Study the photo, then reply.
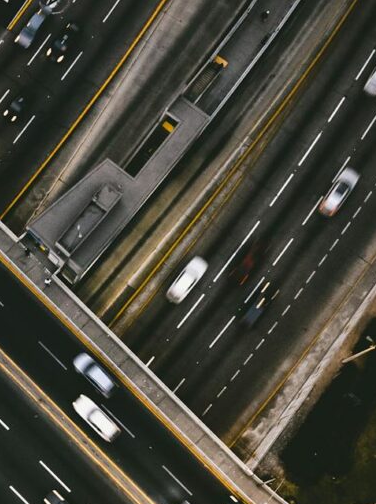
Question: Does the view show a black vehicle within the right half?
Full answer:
Yes, within the right half there is a black vehicle.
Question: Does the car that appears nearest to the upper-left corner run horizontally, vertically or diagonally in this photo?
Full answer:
What the image shows is the car that appears nearest to the upper-left corner lying diagonally.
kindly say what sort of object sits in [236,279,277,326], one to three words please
car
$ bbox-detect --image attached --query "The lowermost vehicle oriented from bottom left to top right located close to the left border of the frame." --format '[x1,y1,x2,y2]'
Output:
[0,82,36,128]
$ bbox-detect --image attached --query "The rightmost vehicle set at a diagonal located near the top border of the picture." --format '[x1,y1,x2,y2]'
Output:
[45,18,84,64]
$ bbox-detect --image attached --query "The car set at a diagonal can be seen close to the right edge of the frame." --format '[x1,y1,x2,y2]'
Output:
[317,167,359,214]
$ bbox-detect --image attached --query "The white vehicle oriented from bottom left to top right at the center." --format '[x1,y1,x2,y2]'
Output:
[167,257,206,302]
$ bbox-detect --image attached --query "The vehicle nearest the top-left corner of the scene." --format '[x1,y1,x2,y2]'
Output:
[13,5,52,51]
